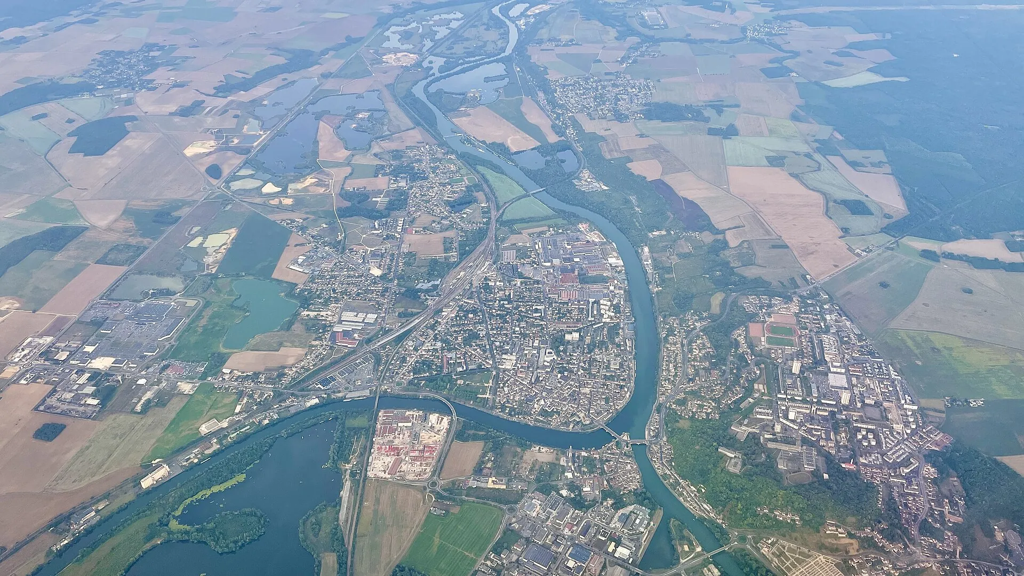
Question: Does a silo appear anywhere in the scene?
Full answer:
Yes, a silo can be made out from above.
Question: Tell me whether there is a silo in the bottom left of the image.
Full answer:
Yes, there is a silo in the bottom left of the image.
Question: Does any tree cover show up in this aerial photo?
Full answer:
Yes, tree cover shows up in the scene.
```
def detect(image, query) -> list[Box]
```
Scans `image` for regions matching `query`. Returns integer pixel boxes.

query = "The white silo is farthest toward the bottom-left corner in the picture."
[137,461,171,488]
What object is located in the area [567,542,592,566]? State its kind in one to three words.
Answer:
building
